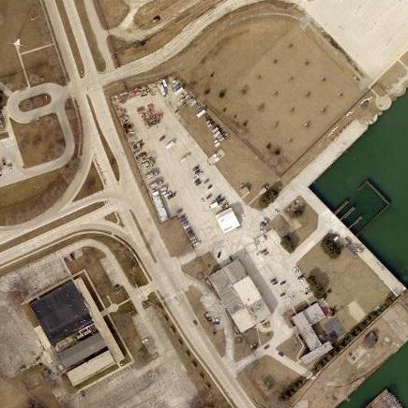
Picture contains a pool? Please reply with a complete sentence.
No, no pool can be seen from above.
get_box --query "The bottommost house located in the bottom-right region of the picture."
[300,342,334,366]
